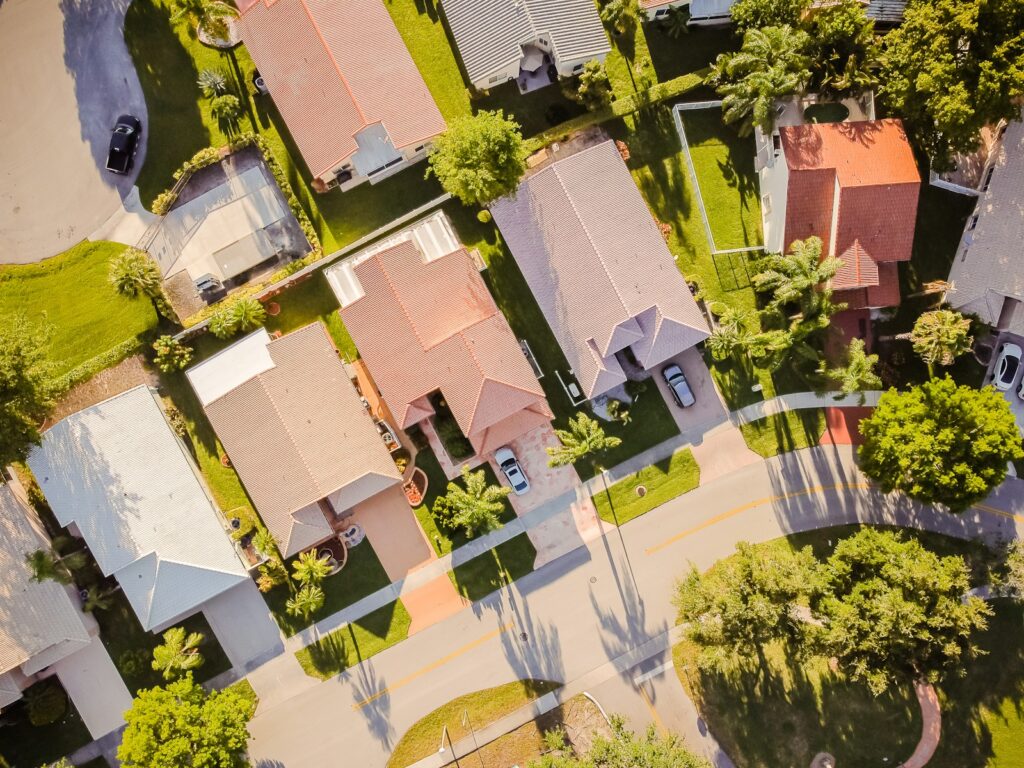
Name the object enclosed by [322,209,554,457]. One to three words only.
house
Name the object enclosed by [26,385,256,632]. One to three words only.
house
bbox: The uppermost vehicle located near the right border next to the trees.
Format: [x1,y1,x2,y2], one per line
[989,342,1022,391]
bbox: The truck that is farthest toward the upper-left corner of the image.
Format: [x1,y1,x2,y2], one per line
[105,113,140,177]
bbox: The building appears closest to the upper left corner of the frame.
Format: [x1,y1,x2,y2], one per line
[229,0,446,199]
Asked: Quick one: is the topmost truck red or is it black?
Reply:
black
